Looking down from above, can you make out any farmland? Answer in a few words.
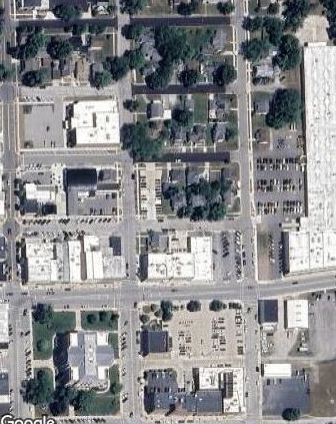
No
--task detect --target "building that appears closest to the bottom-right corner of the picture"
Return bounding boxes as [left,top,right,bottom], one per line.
[264,363,291,377]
